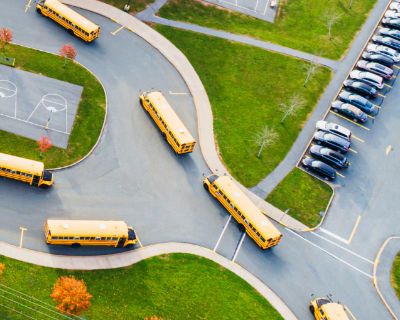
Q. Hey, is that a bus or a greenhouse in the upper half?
bus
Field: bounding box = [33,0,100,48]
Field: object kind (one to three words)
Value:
bus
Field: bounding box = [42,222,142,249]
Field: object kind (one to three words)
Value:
bus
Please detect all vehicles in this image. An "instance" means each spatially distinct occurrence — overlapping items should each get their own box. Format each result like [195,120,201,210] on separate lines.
[309,146,348,169]
[339,92,375,113]
[387,11,400,19]
[313,132,352,155]
[342,79,379,99]
[0,155,58,191]
[301,158,340,182]
[379,27,400,40]
[201,172,280,253]
[371,34,400,54]
[42,222,142,249]
[305,287,347,320]
[358,60,393,80]
[331,101,367,122]
[315,120,352,141]
[361,51,395,69]
[349,68,385,89]
[384,18,400,31]
[33,0,100,48]
[139,89,195,158]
